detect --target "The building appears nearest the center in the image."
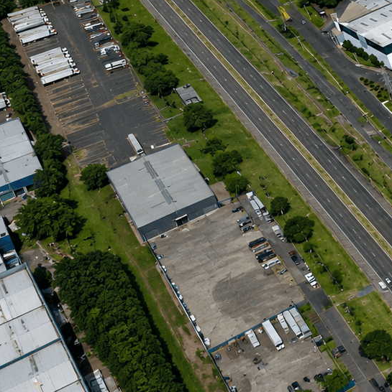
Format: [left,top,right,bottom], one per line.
[107,143,219,241]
